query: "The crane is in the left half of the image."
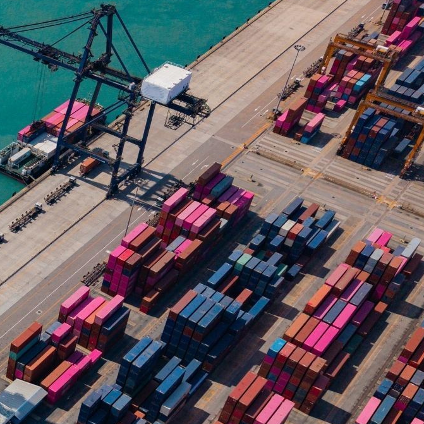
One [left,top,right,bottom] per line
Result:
[0,0,217,200]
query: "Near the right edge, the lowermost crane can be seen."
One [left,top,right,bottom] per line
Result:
[332,88,424,181]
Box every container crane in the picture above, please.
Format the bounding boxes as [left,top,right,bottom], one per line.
[307,27,403,110]
[0,0,217,200]
[332,88,424,181]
